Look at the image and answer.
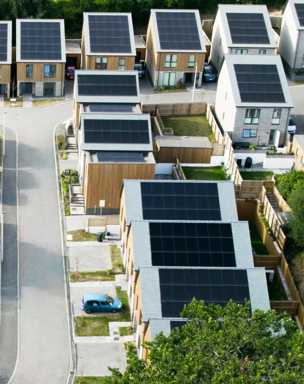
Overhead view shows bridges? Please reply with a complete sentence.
No, there is no bridge in the image.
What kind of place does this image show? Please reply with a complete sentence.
The picture captures a residential area.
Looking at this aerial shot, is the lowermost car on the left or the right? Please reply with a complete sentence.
The lowermost car is on the left side of the image.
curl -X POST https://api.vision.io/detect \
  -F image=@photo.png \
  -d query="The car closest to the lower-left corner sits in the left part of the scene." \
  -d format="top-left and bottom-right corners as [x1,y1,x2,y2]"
[80,292,122,313]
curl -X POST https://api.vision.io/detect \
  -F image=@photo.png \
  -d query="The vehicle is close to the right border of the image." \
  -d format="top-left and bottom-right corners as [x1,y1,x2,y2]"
[287,112,302,131]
